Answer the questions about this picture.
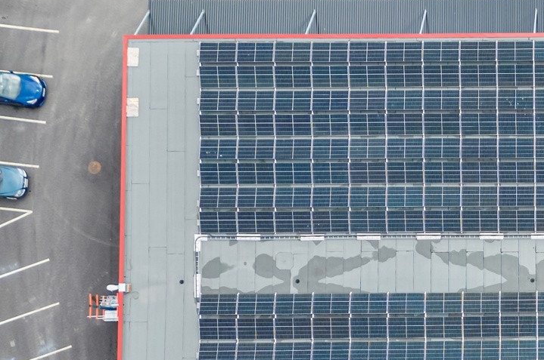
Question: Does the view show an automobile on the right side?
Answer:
No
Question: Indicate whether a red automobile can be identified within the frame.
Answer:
No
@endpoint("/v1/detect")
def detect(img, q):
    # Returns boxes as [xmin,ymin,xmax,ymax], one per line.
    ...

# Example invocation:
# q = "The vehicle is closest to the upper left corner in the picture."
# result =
[0,65,51,109]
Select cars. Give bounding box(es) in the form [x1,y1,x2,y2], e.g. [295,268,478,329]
[0,164,32,201]
[0,65,51,109]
